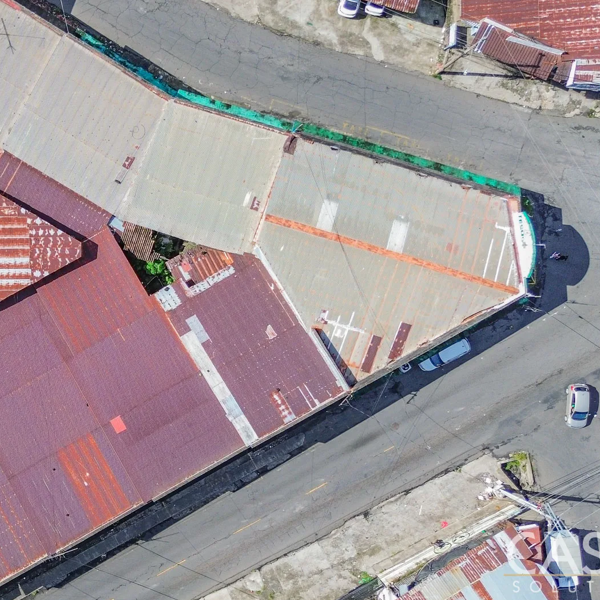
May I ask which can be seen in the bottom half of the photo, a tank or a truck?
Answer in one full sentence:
The one visible in the bottom half of the photo is a truck.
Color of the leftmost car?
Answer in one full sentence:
In this view, the leftmost car is white.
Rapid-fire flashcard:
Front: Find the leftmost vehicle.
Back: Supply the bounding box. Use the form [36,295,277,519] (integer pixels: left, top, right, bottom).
[334,0,360,22]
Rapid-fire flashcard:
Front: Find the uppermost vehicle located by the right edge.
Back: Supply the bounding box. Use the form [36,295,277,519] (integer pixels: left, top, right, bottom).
[563,382,592,429]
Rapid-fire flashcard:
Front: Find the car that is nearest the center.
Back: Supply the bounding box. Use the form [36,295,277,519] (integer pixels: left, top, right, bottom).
[417,336,473,373]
